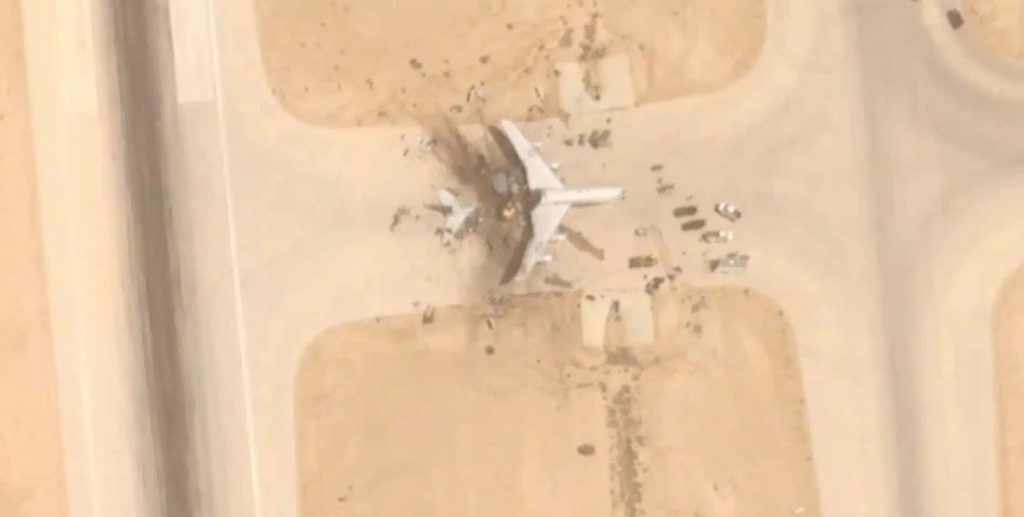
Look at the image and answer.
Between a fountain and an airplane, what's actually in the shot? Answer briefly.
airplane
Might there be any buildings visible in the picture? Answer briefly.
No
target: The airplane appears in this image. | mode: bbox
[501,119,627,281]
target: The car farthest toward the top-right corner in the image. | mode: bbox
[949,9,964,26]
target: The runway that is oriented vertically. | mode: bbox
[21,0,259,517]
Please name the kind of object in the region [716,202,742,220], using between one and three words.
vehicle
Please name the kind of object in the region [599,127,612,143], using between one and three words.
vehicle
